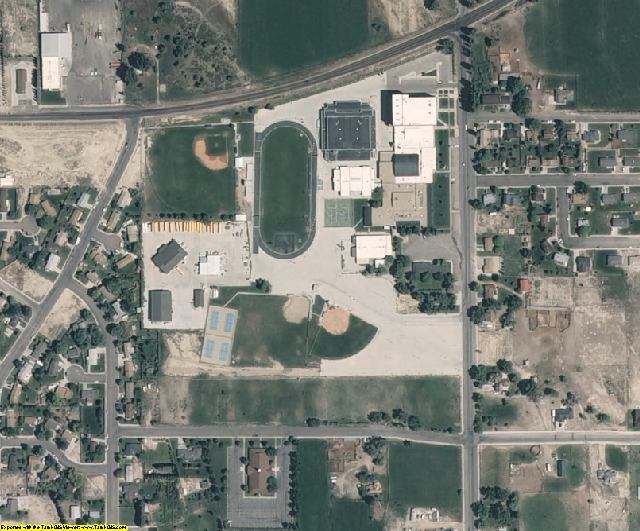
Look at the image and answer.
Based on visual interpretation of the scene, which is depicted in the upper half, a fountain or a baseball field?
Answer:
baseball field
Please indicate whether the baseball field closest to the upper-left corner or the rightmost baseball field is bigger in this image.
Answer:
the baseball field closest to the upper-left corner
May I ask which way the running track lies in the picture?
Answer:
up and down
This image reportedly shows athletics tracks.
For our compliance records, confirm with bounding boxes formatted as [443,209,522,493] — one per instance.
[254,121,317,259]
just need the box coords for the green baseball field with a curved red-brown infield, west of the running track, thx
[146,124,235,214]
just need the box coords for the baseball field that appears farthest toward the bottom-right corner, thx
[306,296,378,367]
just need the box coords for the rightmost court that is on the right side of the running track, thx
[324,199,354,226]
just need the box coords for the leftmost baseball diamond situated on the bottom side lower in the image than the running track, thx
[227,294,309,367]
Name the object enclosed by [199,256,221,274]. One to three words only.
building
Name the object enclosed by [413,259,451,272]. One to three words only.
house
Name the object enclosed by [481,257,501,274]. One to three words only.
house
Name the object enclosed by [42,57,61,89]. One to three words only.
building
